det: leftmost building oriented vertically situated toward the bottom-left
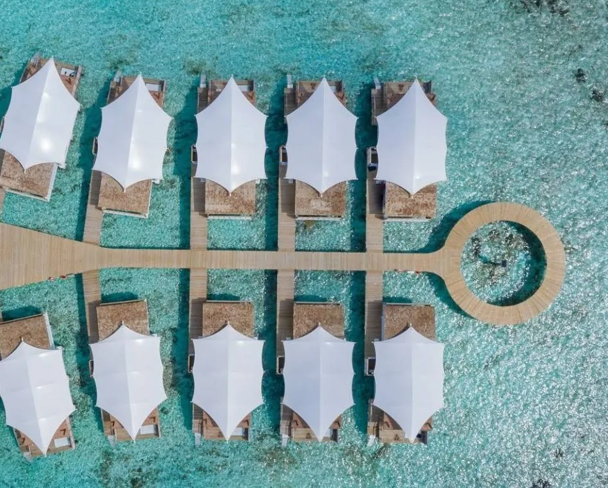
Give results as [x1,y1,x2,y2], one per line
[0,309,78,459]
